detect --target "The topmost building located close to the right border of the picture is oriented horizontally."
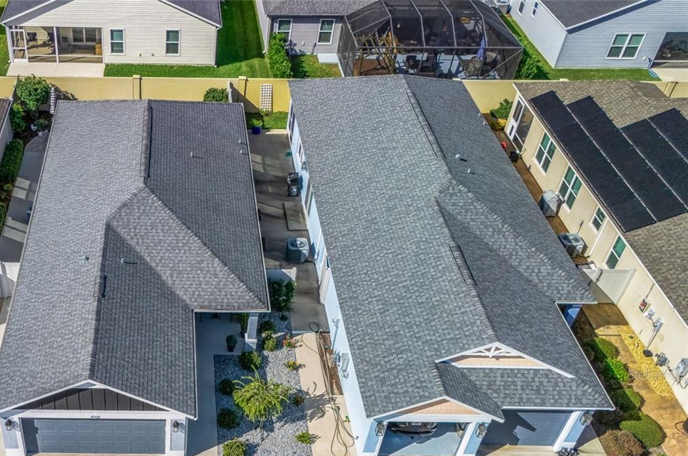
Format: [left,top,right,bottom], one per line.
[519,0,688,70]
